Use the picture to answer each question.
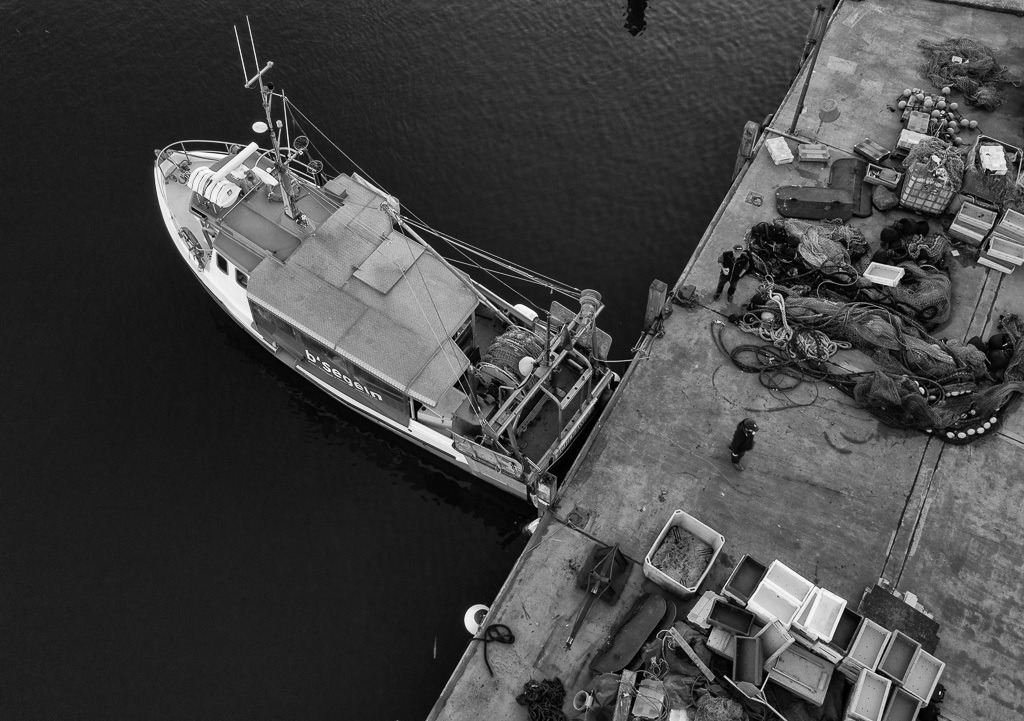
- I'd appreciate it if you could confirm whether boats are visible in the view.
Yes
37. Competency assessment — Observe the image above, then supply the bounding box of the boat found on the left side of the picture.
[147,17,628,499]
